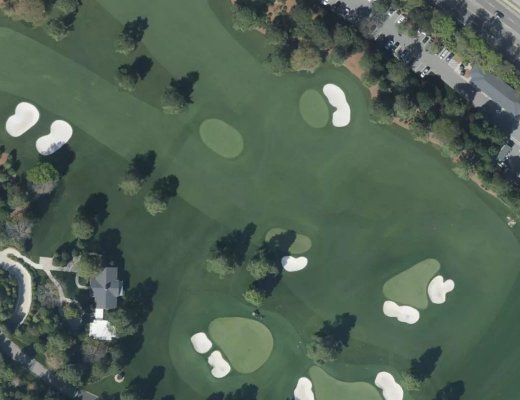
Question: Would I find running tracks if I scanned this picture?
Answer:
No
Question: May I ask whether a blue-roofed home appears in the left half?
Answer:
No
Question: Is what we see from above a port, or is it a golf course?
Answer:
golf course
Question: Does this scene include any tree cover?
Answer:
Yes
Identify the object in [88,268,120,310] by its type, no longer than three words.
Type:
house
